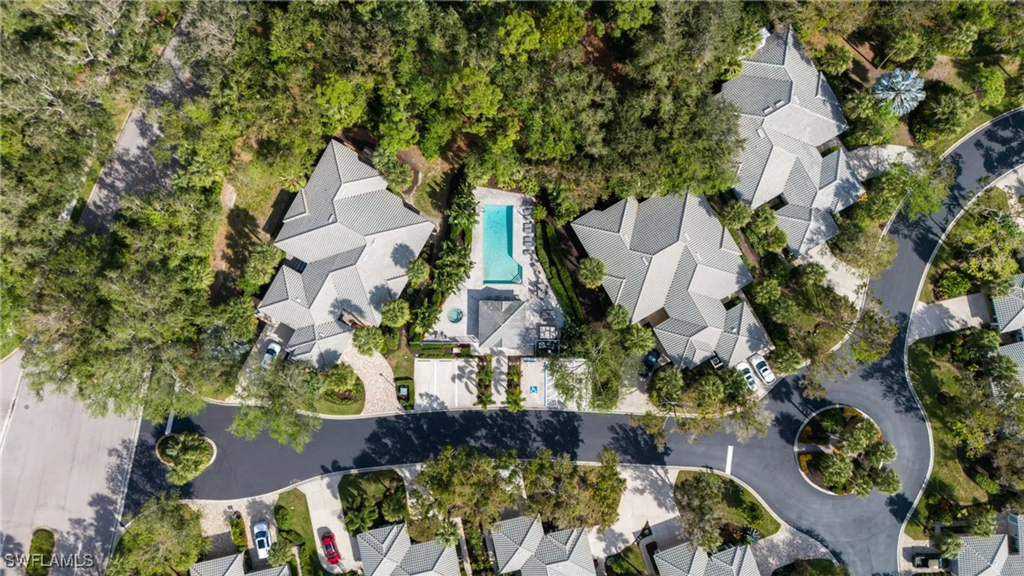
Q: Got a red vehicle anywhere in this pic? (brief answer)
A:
Yes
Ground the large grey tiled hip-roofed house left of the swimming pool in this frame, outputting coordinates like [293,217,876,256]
[261,138,434,371]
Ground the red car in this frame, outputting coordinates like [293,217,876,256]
[319,531,340,568]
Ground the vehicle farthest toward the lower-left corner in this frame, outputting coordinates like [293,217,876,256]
[249,522,270,561]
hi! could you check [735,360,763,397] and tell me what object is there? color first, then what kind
white car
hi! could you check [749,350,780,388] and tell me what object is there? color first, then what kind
white car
